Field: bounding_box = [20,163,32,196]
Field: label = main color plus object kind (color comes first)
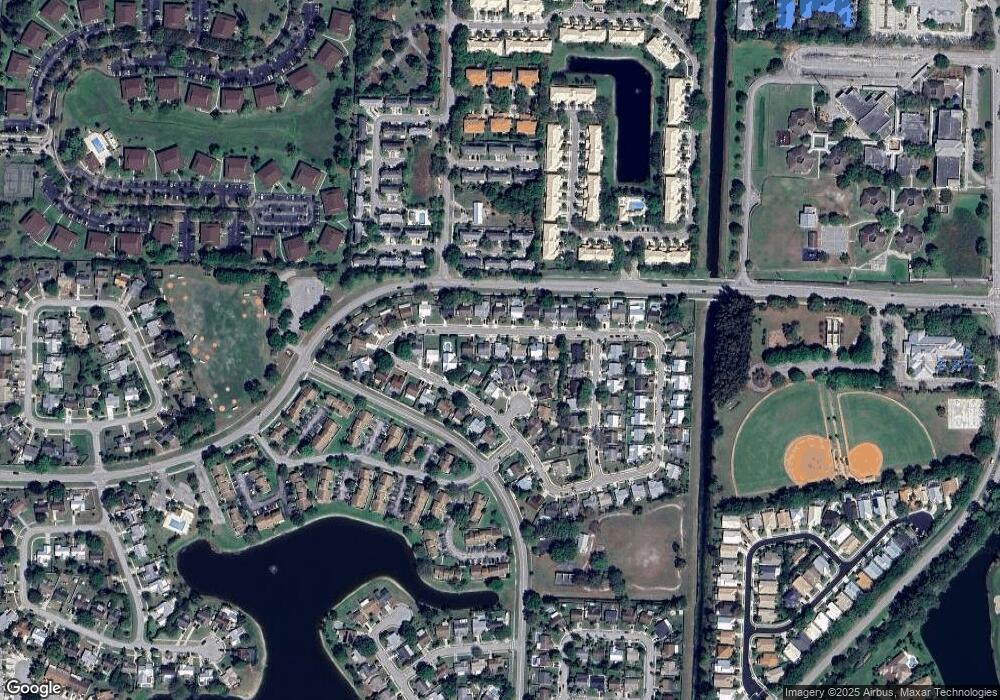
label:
gray tennis court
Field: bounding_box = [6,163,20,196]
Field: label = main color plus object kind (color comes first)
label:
gray tennis court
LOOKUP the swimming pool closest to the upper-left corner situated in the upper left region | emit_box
[81,130,111,166]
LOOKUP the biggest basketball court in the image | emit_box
[948,399,983,429]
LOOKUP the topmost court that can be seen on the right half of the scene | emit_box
[821,226,847,252]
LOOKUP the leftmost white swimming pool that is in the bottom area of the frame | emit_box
[163,510,195,535]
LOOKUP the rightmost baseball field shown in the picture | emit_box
[840,391,937,481]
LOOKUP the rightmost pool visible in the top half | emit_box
[628,197,646,217]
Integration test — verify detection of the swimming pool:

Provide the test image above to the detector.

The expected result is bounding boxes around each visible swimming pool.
[906,653,918,668]
[628,197,646,217]
[443,341,452,352]
[81,130,111,166]
[408,209,431,226]
[163,510,195,535]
